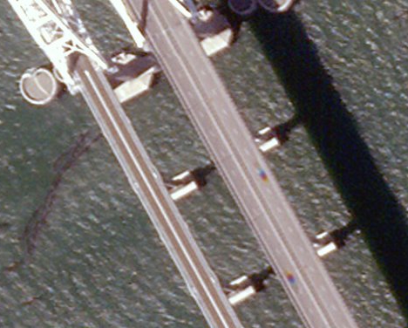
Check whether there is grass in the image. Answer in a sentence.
No, the scene doesn't show any grass.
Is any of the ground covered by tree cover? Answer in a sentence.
No, tree cover can't be seen anywhere here.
